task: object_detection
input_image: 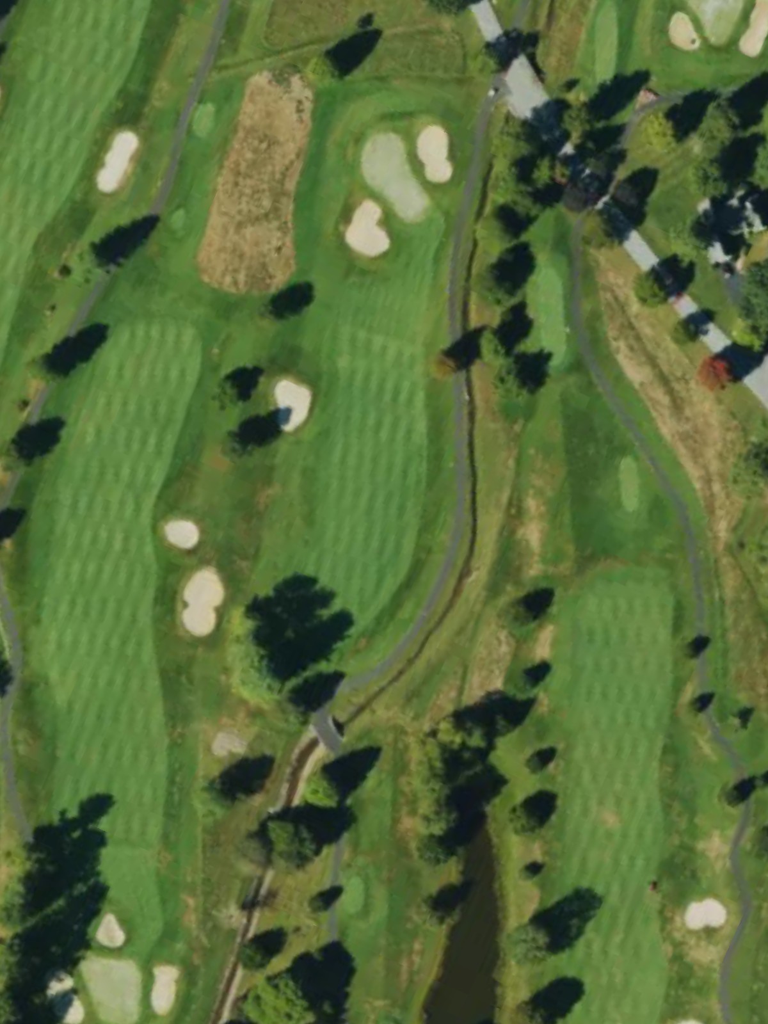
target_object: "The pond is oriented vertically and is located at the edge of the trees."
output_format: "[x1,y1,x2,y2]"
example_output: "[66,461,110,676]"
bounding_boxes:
[422,813,501,1024]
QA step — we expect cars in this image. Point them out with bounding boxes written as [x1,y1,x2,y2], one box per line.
[723,271,733,282]
[672,289,685,303]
